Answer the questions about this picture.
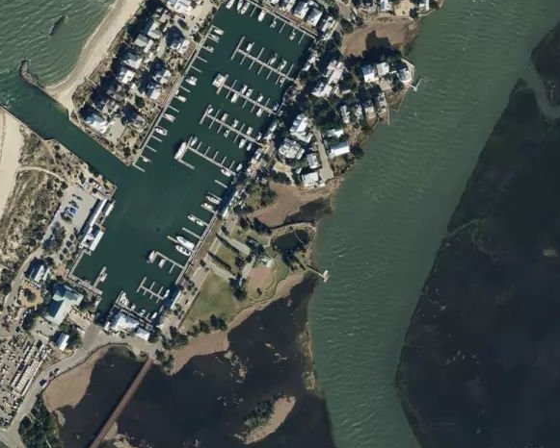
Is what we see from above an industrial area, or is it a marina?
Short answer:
marina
